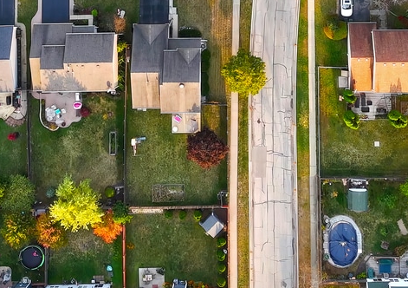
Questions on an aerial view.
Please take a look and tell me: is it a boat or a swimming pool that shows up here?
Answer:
swimming pool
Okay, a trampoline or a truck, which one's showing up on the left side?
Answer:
trampoline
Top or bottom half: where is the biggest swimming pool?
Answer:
bottom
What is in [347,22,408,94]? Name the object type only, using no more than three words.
house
